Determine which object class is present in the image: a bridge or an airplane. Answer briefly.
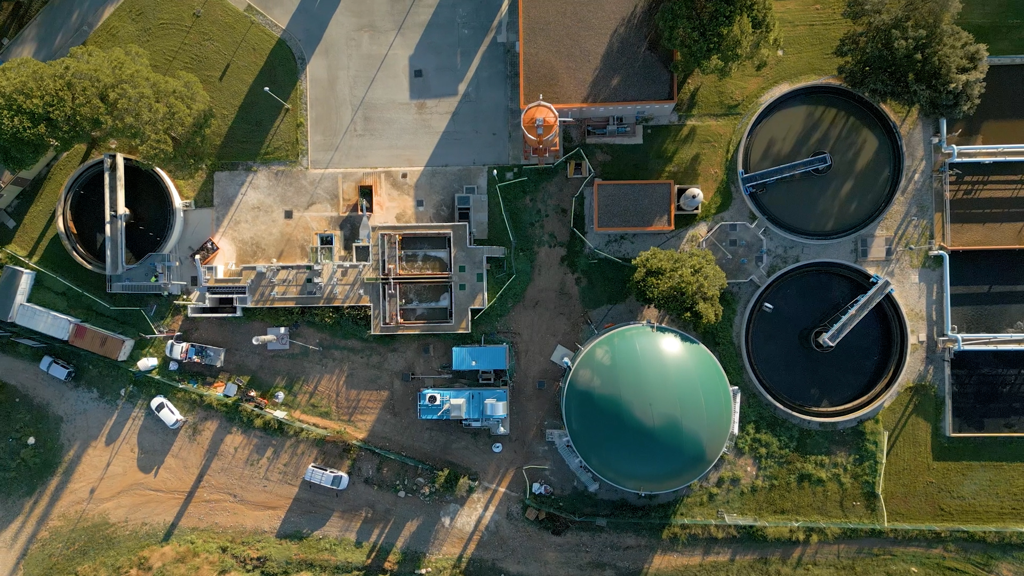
bridge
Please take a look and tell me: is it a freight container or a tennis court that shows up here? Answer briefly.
freight container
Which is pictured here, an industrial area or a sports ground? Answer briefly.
industrial area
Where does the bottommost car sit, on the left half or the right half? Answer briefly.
left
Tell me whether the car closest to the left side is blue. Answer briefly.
Yes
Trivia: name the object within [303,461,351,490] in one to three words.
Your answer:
car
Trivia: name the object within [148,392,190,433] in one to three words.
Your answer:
car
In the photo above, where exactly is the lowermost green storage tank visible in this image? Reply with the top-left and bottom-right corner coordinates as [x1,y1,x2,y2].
[554,316,734,496]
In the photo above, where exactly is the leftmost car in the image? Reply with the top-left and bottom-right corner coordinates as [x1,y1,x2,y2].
[37,354,77,381]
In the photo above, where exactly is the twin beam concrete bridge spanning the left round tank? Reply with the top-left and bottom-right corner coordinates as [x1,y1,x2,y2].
[103,150,150,275]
